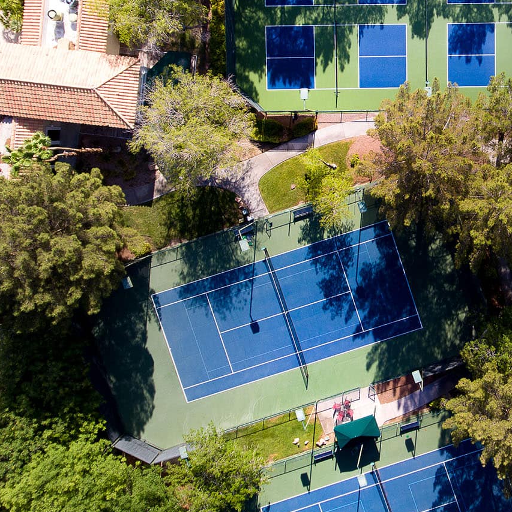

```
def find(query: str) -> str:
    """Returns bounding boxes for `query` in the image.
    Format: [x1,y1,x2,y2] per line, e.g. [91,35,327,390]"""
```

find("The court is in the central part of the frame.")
[82,168,488,451]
